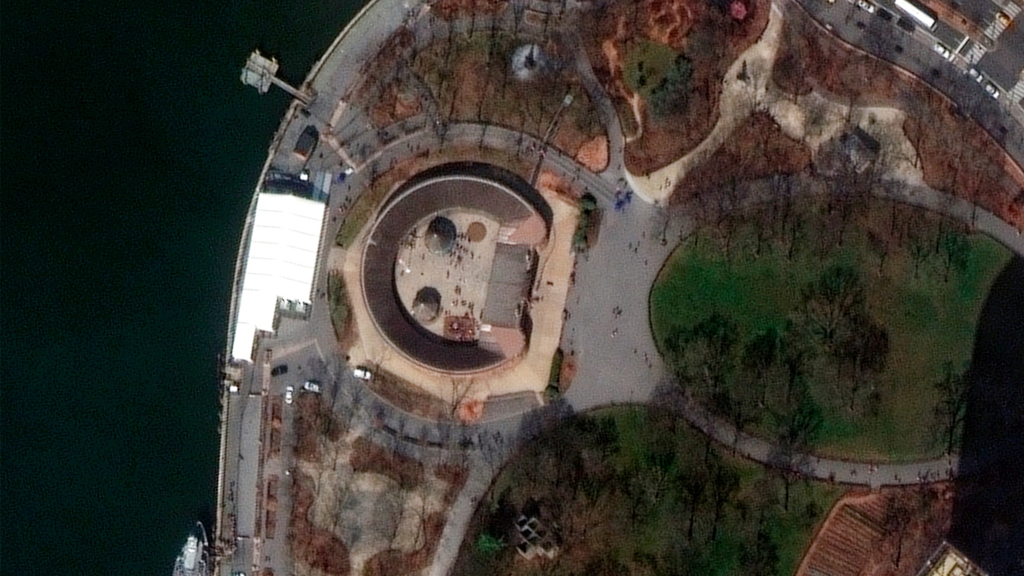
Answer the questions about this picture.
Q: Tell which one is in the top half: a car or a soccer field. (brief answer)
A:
car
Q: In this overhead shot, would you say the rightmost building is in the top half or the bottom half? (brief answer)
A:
bottom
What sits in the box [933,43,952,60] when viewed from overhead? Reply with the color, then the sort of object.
white car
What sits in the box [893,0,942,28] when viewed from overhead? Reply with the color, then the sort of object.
white bus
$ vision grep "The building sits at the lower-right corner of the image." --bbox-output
[914,459,1024,576]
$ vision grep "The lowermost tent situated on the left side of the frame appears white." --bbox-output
[233,188,332,363]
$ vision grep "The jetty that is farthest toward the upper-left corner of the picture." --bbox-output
[238,50,279,100]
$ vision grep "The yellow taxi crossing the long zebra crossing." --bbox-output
[994,13,1011,29]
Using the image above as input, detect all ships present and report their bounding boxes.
[173,522,215,576]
